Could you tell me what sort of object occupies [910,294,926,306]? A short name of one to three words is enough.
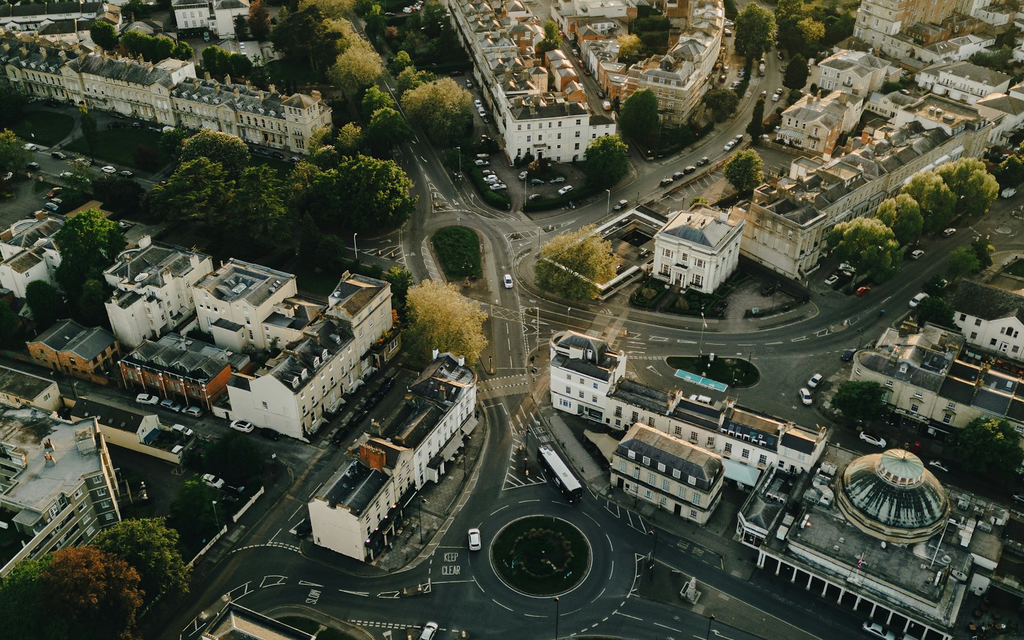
vehicle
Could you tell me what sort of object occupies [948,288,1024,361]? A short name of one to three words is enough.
house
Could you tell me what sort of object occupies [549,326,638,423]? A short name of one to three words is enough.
building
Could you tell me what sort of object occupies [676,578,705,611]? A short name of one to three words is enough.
fountain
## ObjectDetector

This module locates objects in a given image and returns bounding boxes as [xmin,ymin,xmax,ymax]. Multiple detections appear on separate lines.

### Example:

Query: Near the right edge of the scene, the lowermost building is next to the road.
[757,449,1024,640]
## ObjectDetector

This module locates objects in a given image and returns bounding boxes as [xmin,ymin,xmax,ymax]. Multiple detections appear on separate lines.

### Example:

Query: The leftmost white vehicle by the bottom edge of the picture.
[419,619,439,640]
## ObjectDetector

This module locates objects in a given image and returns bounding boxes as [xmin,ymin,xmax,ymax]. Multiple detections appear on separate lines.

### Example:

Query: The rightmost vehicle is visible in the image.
[1000,186,1016,198]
